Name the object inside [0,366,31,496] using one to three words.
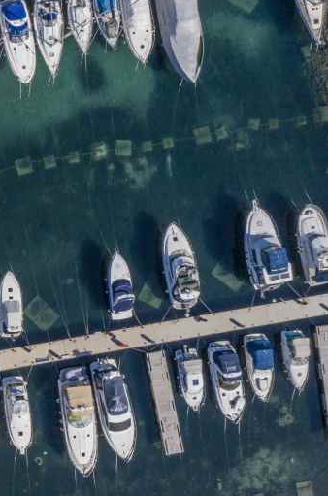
boat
